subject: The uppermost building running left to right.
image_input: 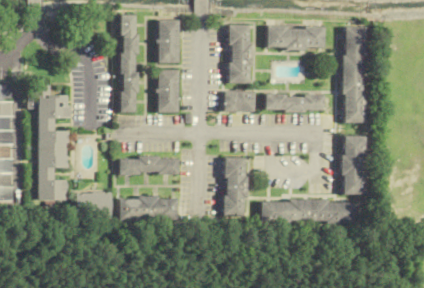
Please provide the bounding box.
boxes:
[268,25,326,52]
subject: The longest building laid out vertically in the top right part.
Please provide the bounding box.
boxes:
[344,26,366,124]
